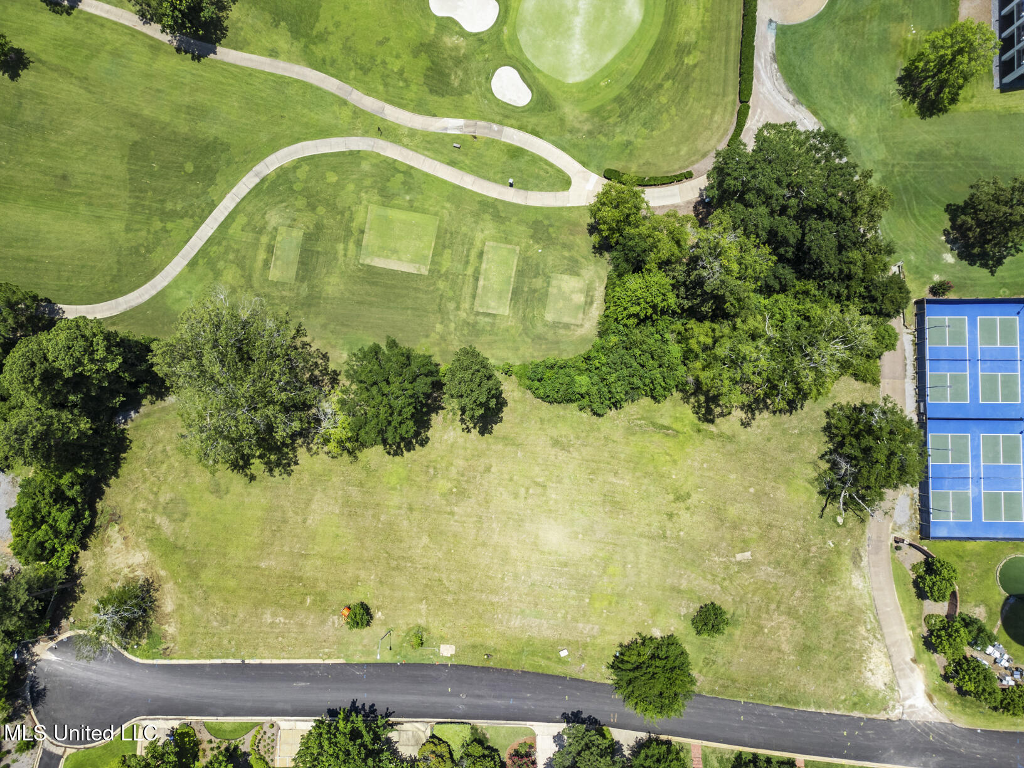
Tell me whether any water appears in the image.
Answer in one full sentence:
No, the scene doesn't show any water.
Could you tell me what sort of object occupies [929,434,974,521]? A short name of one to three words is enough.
sports court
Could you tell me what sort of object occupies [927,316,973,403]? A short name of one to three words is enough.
sports court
